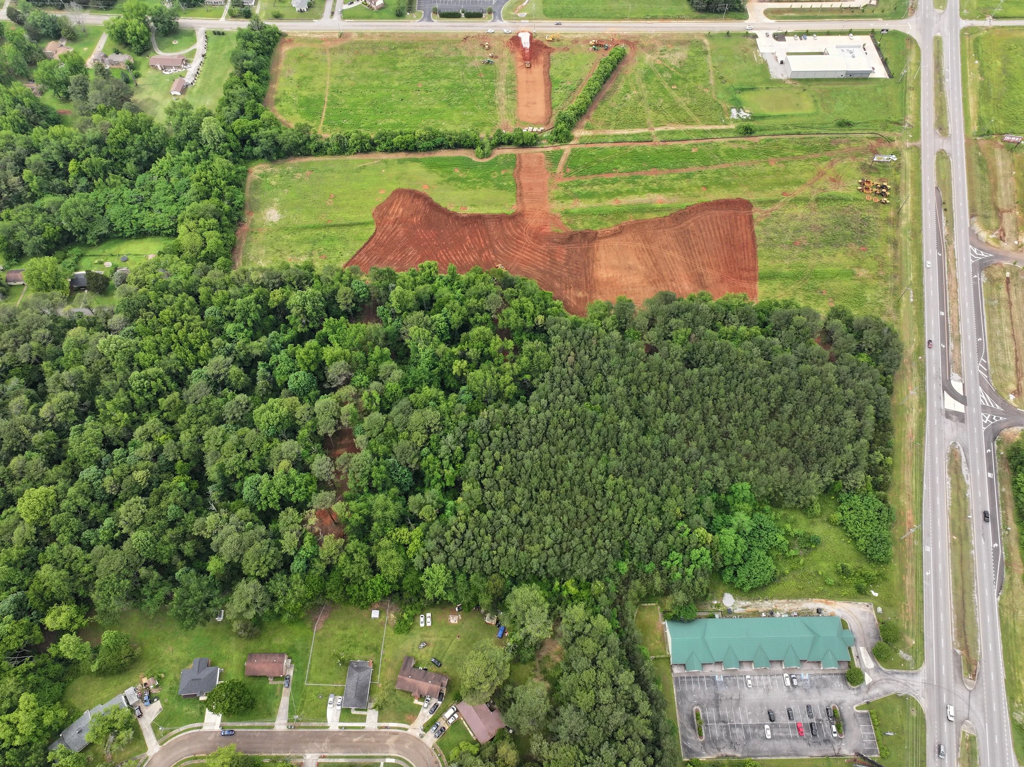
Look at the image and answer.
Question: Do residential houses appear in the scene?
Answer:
Yes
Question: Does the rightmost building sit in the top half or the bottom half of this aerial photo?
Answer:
top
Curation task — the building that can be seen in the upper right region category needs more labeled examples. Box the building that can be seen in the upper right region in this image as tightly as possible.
[783,45,873,78]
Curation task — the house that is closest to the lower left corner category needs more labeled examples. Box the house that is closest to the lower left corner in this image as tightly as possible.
[48,695,129,755]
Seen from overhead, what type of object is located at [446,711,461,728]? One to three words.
vehicle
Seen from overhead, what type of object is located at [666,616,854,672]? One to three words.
building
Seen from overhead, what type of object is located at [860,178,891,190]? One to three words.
vehicle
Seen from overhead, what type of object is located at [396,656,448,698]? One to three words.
house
